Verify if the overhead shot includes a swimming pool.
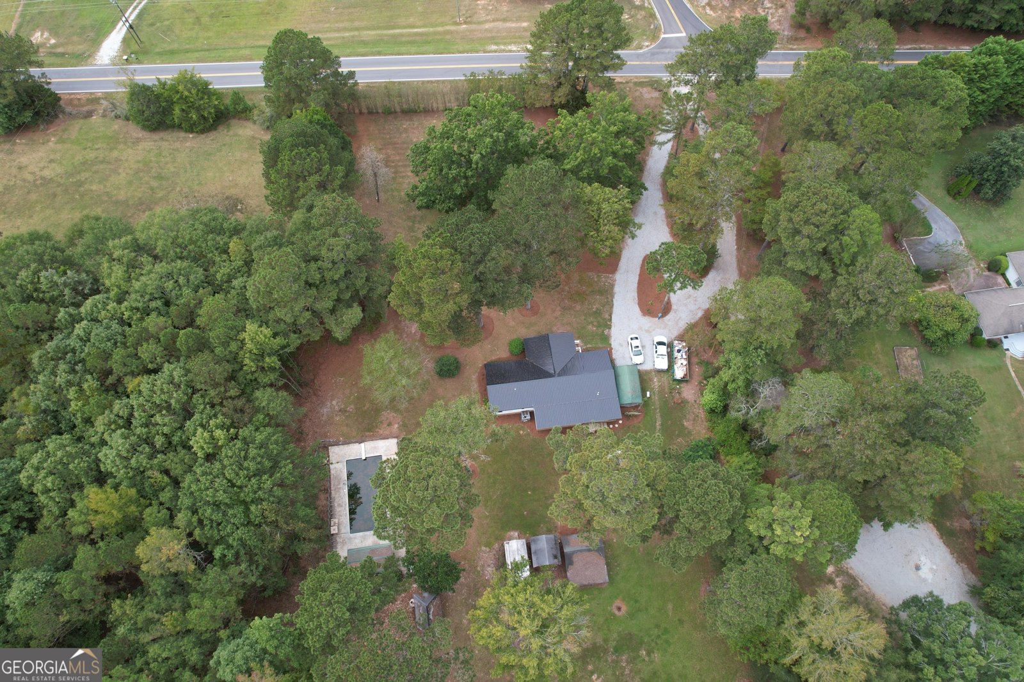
Yes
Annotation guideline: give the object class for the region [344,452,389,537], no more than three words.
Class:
swimming pool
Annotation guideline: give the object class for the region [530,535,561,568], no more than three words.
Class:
shed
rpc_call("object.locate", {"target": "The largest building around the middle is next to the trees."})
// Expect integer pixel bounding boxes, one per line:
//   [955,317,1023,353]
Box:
[484,331,622,440]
